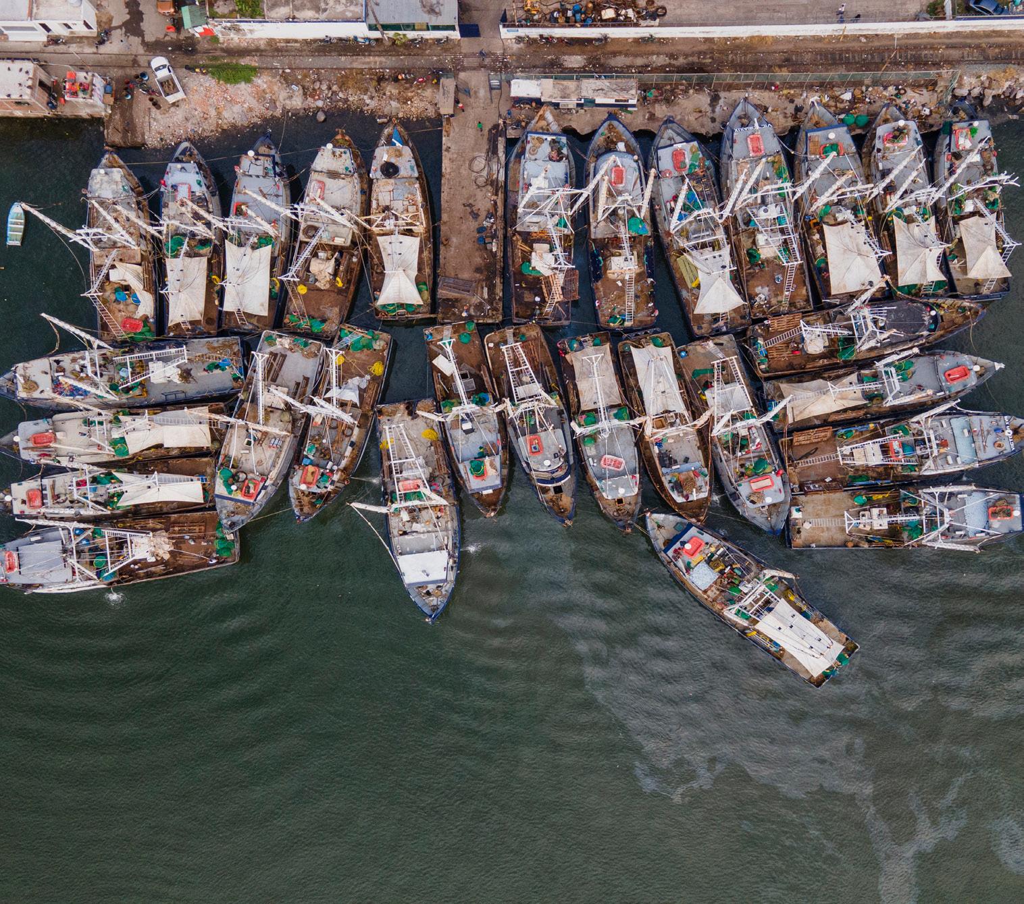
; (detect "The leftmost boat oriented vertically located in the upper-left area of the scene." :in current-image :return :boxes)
[7,202,26,247]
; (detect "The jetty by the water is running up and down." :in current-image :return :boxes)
[437,101,505,325]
